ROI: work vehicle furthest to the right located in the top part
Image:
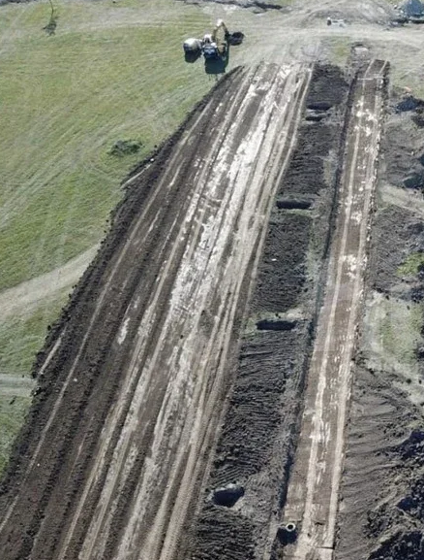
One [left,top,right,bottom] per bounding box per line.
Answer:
[199,13,238,57]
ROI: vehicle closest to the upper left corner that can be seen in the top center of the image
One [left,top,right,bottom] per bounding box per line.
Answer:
[180,36,207,51]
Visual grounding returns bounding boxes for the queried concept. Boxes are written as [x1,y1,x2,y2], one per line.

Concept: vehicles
[180,36,207,51]
[199,13,238,57]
